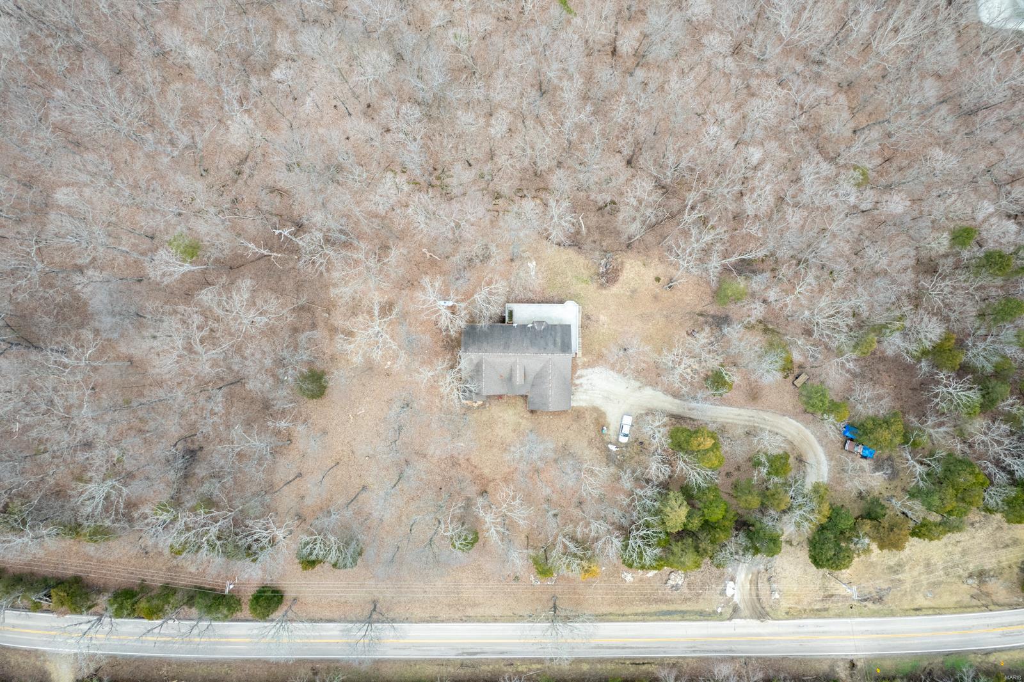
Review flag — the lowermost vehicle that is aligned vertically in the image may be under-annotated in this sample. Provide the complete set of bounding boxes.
[617,414,632,442]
